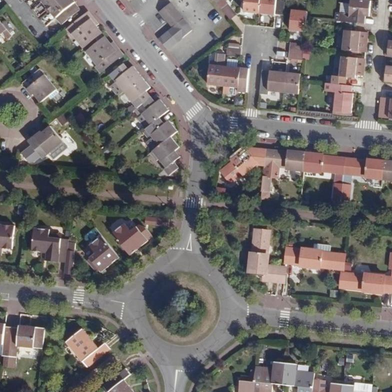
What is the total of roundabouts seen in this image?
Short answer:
1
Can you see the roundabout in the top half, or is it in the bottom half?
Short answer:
bottom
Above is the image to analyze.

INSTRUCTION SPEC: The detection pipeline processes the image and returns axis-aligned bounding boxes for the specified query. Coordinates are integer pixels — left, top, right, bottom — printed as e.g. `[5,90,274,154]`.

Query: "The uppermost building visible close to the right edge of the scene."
[336,0,374,26]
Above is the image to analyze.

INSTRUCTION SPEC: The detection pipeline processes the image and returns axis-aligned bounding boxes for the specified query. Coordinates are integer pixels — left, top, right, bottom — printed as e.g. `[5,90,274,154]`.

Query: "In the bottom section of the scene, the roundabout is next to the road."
[96,196,272,383]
